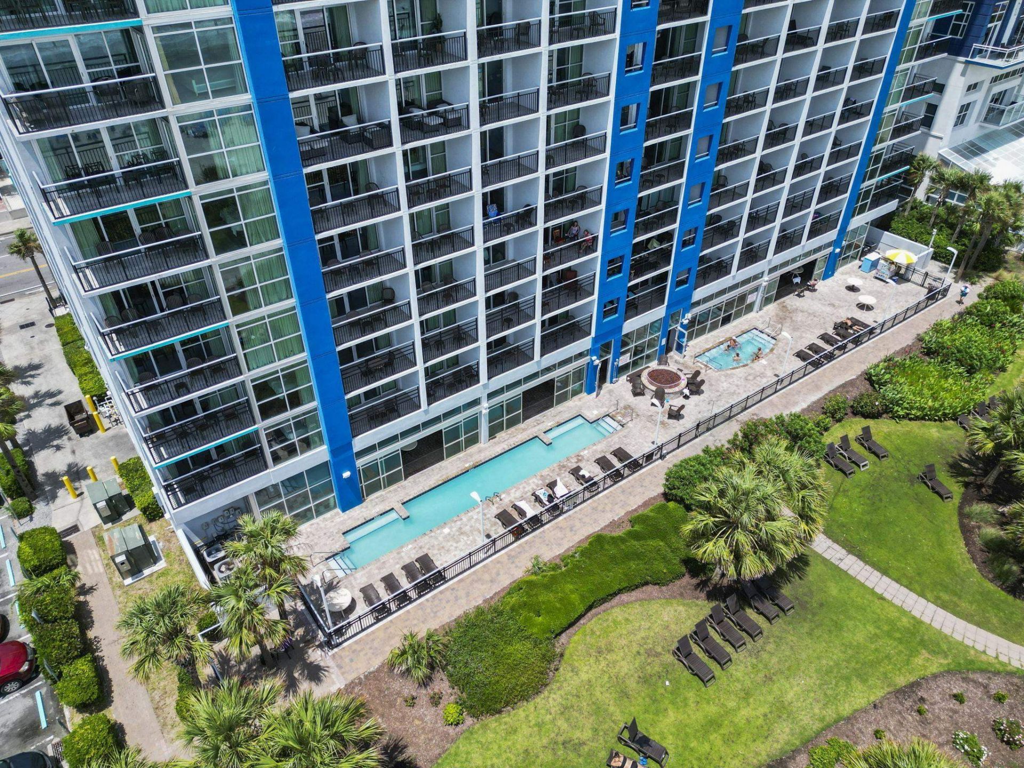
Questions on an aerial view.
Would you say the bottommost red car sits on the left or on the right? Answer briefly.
left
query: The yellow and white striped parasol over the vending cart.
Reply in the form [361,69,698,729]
[885,248,919,266]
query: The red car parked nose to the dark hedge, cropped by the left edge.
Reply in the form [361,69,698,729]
[0,639,37,691]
